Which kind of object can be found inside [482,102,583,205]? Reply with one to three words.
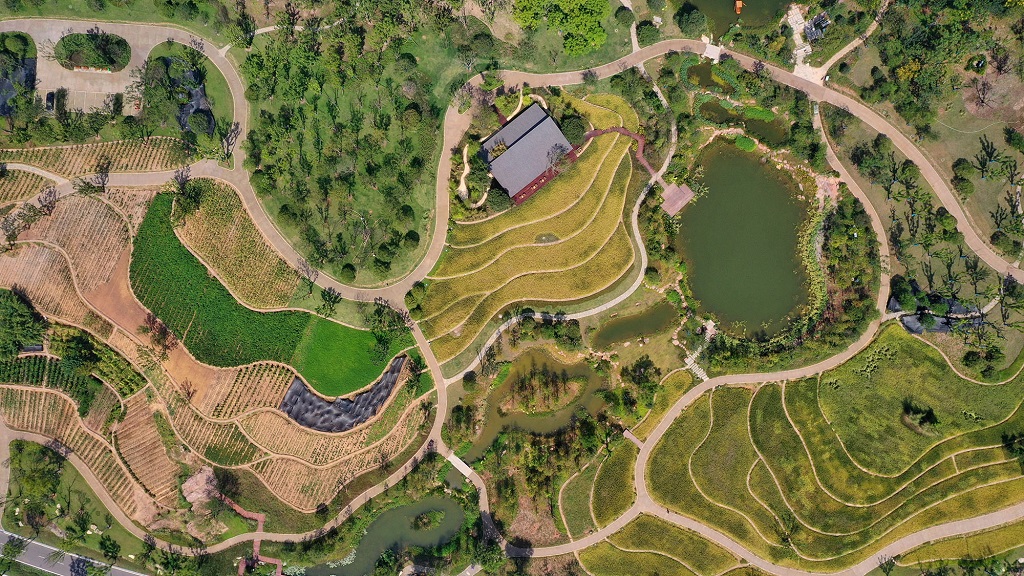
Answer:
building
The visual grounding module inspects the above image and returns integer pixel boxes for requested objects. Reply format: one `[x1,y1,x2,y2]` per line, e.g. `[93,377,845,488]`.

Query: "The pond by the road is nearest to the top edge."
[693,0,792,46]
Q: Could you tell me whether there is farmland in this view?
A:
Yes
